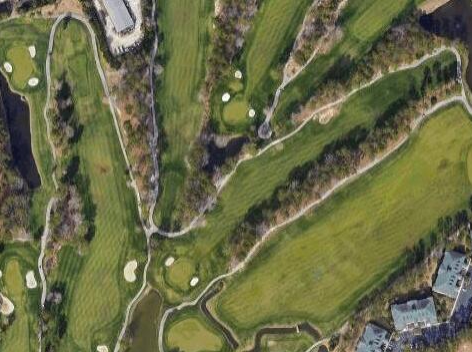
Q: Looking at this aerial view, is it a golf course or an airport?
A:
golf course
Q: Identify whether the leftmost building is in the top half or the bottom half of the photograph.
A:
top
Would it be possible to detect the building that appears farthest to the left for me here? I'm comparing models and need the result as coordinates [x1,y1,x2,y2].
[101,0,131,32]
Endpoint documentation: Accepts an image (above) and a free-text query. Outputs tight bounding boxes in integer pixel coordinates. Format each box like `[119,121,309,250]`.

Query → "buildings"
[433,249,472,298]
[391,298,439,333]
[101,0,131,32]
[353,323,392,352]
